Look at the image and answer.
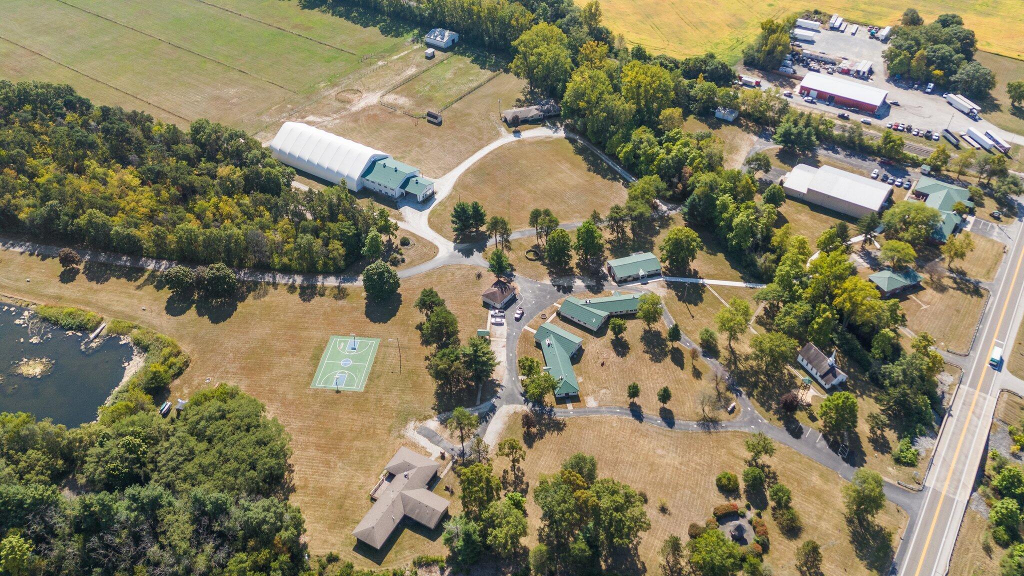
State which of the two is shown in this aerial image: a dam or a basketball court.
basketball court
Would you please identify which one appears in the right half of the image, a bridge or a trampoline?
bridge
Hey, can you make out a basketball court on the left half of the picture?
Yes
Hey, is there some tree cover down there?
Yes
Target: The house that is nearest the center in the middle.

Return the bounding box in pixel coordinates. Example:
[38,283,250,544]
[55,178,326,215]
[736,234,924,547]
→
[482,281,516,308]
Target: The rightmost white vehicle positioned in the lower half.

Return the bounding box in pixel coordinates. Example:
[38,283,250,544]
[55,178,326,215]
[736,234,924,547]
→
[988,342,1004,366]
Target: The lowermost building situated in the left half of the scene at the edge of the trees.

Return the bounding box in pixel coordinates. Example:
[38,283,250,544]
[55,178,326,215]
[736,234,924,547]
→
[353,446,450,552]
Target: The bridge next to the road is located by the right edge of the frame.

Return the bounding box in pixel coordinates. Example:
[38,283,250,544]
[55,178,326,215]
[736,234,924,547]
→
[915,377,1003,520]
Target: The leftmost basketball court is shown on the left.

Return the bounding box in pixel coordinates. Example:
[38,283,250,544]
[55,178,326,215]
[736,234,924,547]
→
[309,336,381,392]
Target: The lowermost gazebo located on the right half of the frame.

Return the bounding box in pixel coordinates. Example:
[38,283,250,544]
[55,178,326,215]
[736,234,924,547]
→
[730,520,746,539]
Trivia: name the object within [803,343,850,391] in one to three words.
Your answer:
building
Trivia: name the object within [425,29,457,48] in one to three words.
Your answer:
barn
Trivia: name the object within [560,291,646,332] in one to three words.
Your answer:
building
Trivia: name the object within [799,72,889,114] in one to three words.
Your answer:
barn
